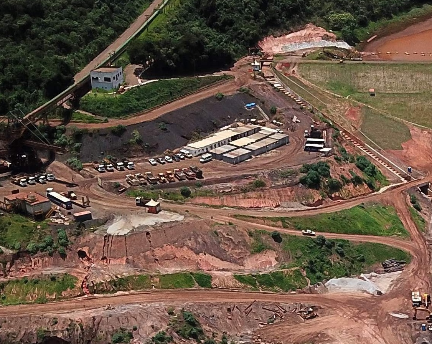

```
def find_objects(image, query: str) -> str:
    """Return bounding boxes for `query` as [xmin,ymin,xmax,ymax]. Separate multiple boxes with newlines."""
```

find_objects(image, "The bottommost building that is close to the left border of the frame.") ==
[5,192,57,213]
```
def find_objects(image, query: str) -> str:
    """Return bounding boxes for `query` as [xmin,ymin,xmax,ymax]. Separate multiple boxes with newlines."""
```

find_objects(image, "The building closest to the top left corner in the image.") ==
[87,67,123,90]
